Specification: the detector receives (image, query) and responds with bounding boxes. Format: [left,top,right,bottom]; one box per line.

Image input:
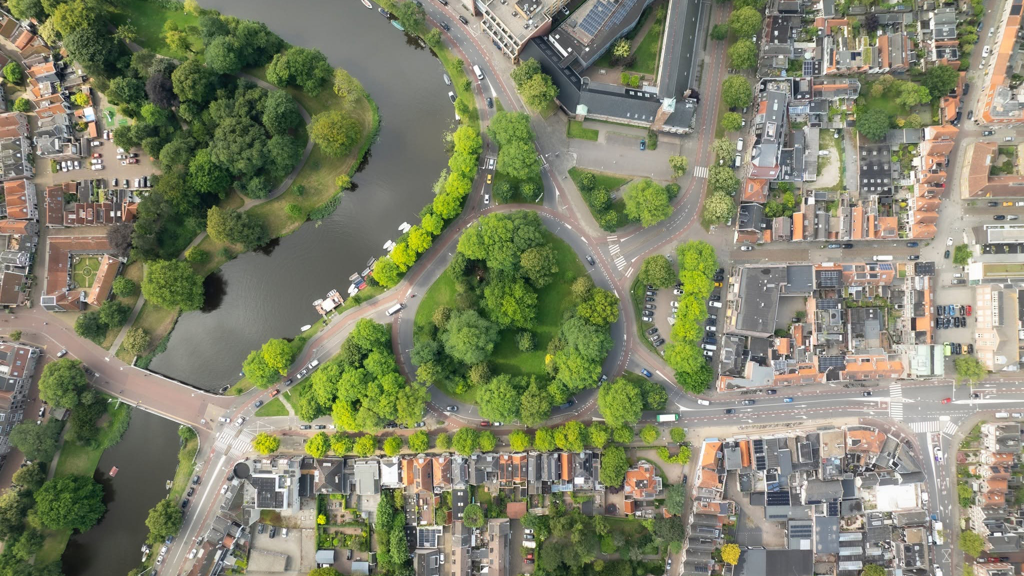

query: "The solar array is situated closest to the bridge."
[250,477,285,508]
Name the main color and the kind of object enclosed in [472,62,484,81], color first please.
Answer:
white vehicle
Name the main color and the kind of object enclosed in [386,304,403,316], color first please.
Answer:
white vehicle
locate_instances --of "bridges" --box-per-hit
[94,365,230,435]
